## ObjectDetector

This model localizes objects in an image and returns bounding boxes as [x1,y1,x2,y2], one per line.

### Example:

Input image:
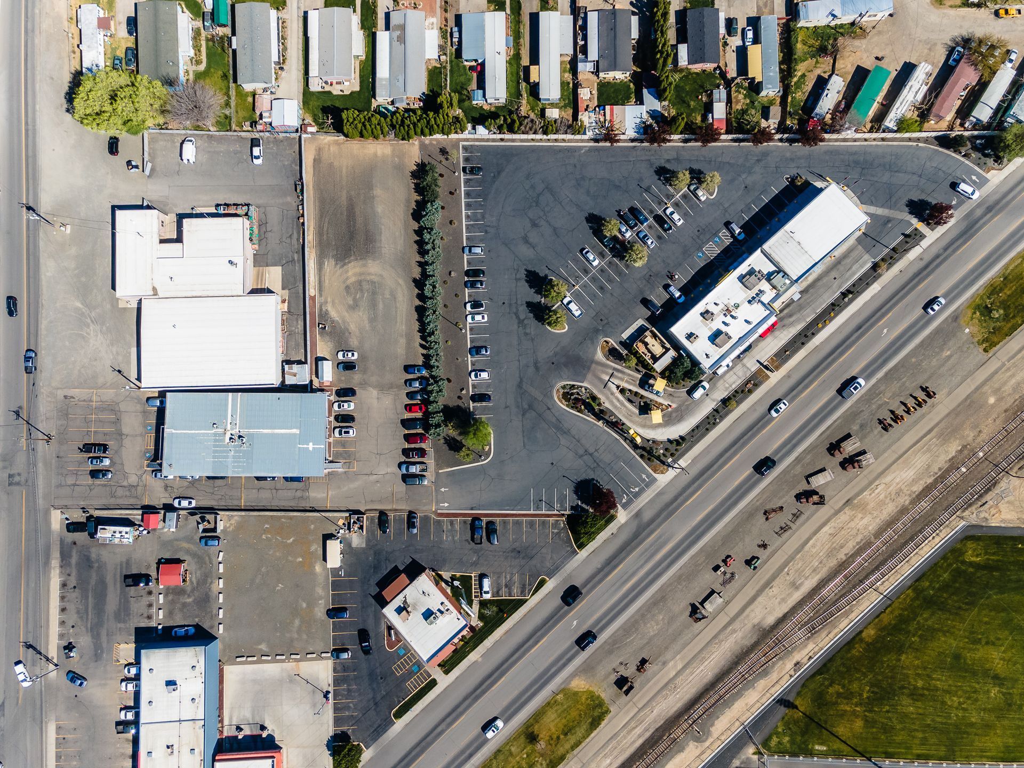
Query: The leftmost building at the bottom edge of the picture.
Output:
[135,637,219,768]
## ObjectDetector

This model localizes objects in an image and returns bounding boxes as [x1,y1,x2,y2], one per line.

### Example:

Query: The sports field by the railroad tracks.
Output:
[768,535,1024,761]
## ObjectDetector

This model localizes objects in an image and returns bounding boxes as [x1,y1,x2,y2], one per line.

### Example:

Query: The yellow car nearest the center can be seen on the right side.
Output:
[628,427,641,444]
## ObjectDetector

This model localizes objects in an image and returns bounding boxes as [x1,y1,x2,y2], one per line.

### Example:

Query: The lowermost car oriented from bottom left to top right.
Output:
[484,717,503,739]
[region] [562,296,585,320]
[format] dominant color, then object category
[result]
white truck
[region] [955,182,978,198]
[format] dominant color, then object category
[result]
white car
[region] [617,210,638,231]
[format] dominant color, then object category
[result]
black vehicle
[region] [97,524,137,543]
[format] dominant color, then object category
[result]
white trailer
